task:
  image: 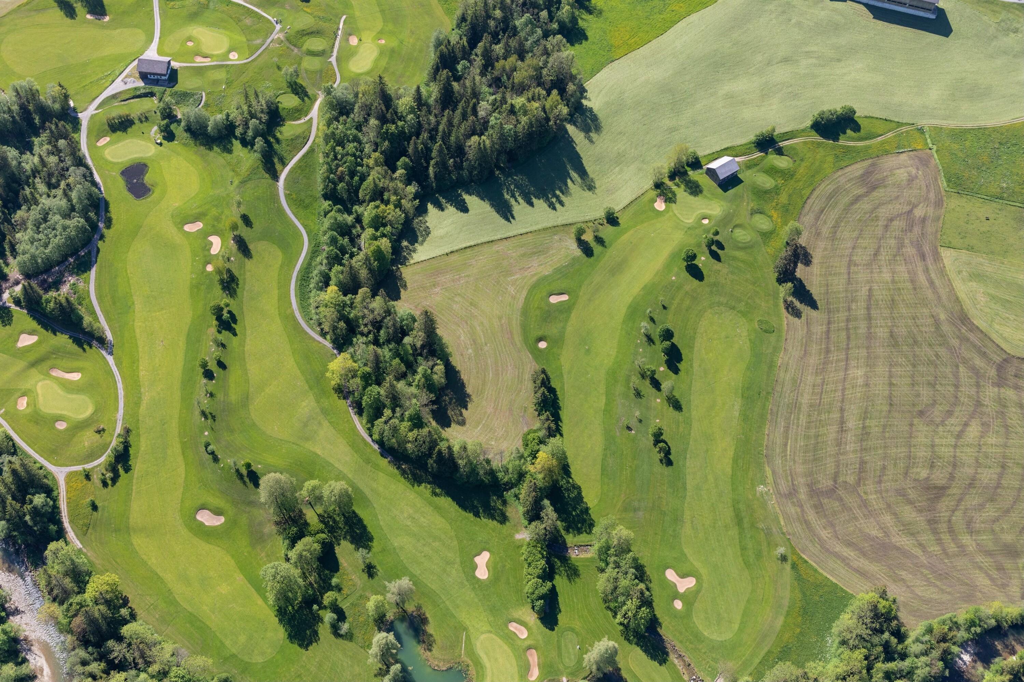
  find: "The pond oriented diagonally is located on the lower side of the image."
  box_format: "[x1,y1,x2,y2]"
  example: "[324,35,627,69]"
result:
[392,616,467,682]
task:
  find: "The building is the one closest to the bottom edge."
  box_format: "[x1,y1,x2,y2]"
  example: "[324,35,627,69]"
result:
[706,155,740,184]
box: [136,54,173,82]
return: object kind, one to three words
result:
house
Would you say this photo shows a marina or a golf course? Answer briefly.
golf course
